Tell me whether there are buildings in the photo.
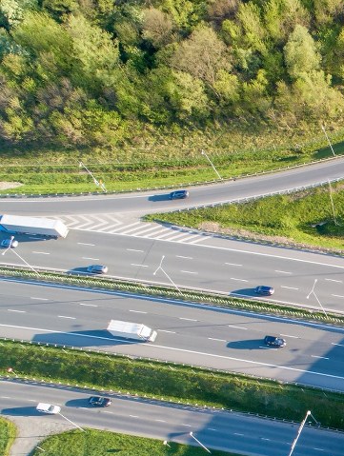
No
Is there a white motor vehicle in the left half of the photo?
Yes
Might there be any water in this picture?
No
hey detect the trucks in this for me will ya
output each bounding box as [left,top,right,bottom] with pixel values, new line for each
[0,214,65,238]
[107,320,157,343]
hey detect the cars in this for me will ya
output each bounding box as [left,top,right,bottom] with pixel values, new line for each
[36,404,60,416]
[88,396,112,407]
[169,189,190,200]
[262,336,286,348]
[87,264,107,275]
[0,238,15,248]
[254,286,275,296]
